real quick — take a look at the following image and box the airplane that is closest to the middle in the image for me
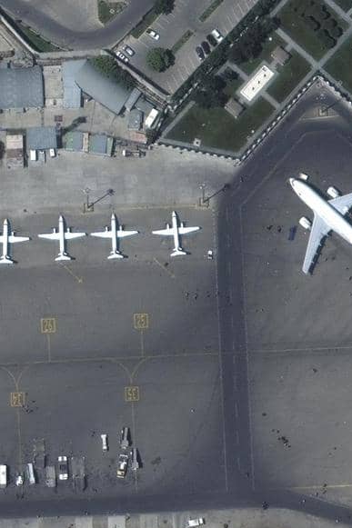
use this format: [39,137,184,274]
[154,212,199,255]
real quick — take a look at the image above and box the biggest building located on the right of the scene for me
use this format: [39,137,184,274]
[240,65,275,102]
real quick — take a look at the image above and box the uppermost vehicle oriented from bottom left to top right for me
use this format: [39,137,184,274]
[145,108,160,127]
